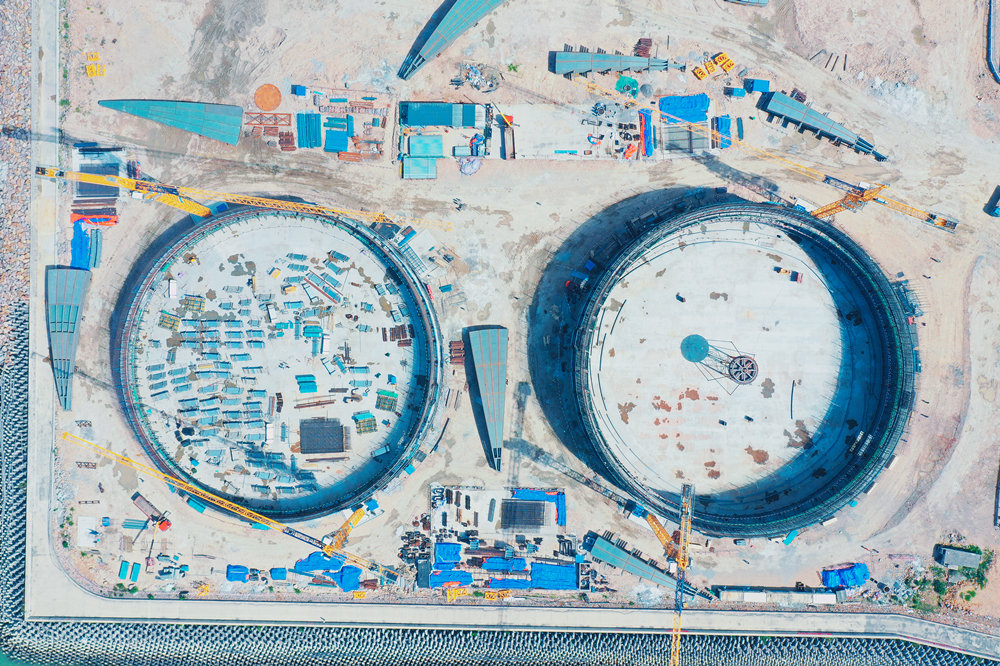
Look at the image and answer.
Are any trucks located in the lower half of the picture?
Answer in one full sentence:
Yes, I can see a truck in the lower half of the picture.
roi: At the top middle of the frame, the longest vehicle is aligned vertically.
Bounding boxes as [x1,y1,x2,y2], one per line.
[488,95,516,155]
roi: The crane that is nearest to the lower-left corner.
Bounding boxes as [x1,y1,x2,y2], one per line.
[58,432,399,586]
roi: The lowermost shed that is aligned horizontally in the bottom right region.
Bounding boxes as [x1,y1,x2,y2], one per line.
[714,587,853,608]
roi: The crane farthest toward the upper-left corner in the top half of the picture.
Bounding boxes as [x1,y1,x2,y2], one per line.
[36,162,454,229]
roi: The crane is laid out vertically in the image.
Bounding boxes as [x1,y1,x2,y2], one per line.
[635,483,698,666]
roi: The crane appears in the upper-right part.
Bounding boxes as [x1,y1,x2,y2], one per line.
[573,70,961,228]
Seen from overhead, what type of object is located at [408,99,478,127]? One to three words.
shed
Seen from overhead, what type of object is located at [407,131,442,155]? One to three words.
shed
